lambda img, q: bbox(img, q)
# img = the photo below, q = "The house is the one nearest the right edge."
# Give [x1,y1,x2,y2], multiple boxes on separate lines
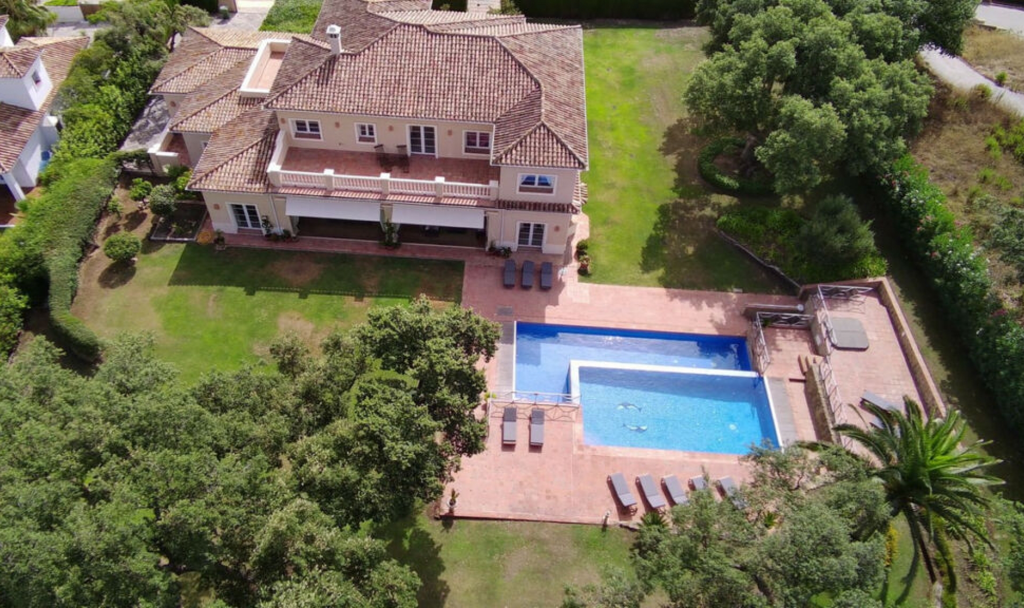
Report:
[147,0,591,254]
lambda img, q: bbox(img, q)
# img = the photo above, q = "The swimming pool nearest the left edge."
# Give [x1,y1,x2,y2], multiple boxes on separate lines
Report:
[510,322,785,455]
